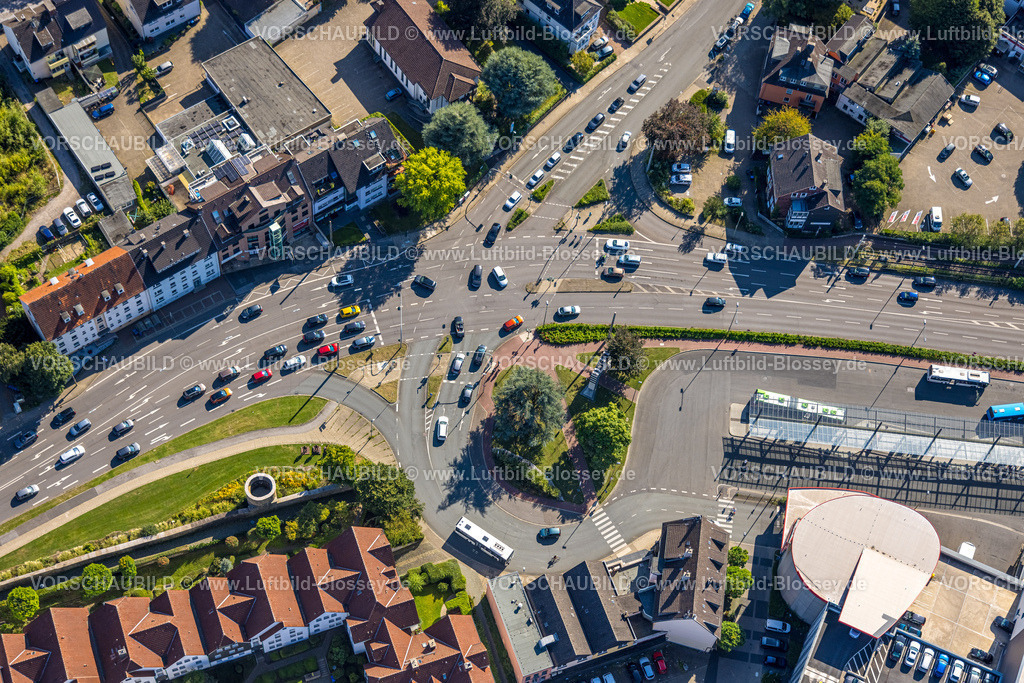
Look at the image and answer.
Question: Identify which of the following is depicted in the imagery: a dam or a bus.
bus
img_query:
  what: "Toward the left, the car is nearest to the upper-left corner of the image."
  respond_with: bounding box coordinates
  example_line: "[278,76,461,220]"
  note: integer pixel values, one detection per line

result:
[91,101,115,119]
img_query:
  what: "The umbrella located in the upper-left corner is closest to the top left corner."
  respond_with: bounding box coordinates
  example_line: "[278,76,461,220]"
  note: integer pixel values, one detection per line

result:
[84,70,106,86]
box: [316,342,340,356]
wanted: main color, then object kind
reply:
red car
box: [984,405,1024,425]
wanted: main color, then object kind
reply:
blue bus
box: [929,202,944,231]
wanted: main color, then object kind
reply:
white camper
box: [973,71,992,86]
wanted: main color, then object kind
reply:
blue car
